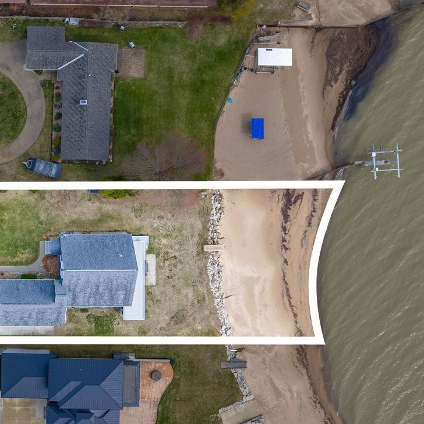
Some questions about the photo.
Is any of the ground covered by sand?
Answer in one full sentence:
Yes, sand shows up in the scene.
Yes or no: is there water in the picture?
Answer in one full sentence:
Yes, there's water in this view.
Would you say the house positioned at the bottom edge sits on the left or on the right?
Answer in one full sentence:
You can find the house positioned at the bottom edge on the left side of the picture.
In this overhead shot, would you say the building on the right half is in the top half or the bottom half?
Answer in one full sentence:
The building on the right half is in the top half of the image.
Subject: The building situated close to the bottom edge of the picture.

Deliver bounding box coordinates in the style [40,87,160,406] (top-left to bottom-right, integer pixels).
[1,353,170,424]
